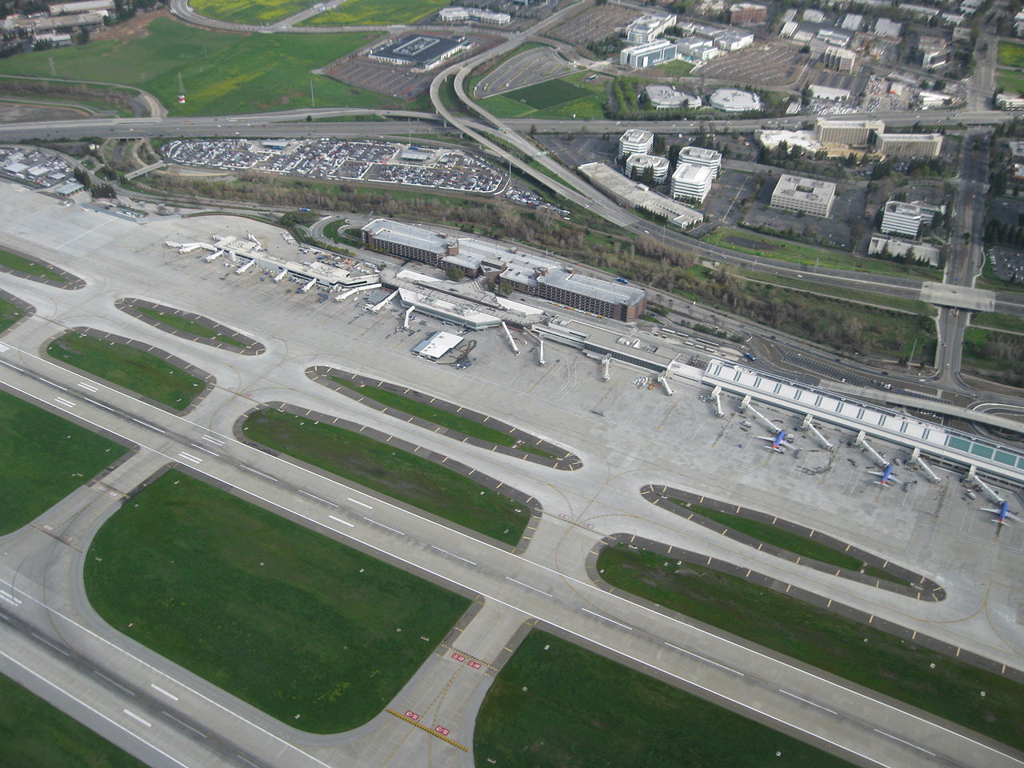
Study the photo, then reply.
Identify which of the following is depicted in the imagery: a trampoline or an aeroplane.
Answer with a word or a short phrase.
aeroplane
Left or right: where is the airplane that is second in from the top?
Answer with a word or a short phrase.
right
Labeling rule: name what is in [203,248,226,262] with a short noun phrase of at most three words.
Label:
jet bridge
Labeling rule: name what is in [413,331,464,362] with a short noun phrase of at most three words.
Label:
shed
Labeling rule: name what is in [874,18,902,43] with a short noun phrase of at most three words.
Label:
building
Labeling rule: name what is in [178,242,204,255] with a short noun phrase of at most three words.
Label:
jet bridge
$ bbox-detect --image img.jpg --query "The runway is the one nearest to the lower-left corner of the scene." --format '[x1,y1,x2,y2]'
[0,582,333,768]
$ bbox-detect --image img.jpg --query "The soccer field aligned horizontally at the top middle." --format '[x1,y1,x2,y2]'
[498,79,593,110]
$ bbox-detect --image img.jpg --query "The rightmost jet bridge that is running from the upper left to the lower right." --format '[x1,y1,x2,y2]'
[975,472,1005,502]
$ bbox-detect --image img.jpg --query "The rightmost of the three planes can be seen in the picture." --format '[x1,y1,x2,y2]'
[977,500,1024,526]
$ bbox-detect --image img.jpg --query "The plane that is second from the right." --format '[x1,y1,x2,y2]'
[863,463,908,487]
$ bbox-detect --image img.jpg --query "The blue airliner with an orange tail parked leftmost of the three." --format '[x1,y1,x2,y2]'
[756,429,798,451]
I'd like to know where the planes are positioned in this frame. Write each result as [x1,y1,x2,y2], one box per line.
[977,500,1024,526]
[863,463,908,487]
[756,429,798,451]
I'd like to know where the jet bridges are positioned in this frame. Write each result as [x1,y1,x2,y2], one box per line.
[301,281,315,294]
[403,306,416,328]
[919,455,941,484]
[539,338,545,364]
[862,437,889,466]
[809,420,833,448]
[716,396,724,417]
[235,259,257,276]
[210,234,225,242]
[178,242,204,255]
[203,248,226,262]
[975,472,1005,502]
[370,289,399,316]
[246,233,262,247]
[747,403,775,430]
[333,282,383,302]
[163,241,219,252]
[501,321,520,355]
[604,354,611,381]
[273,270,286,283]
